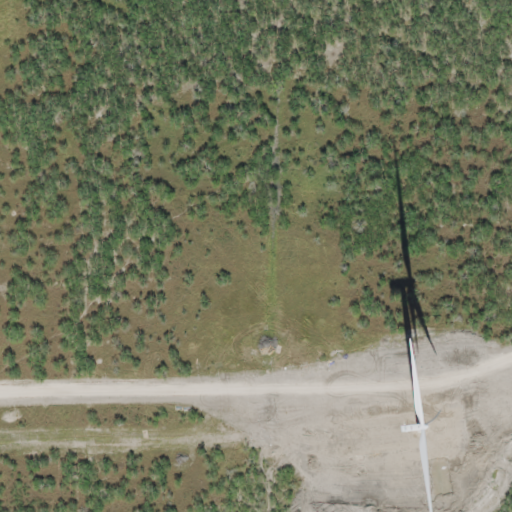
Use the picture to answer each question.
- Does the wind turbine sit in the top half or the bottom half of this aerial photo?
bottom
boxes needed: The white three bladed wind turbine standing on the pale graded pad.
[401,345,442,512]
